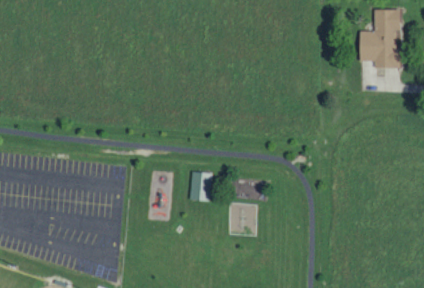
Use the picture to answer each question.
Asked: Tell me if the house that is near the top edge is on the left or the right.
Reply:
right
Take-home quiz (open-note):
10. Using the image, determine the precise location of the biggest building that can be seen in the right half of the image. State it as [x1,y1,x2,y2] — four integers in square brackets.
[360,9,401,68]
